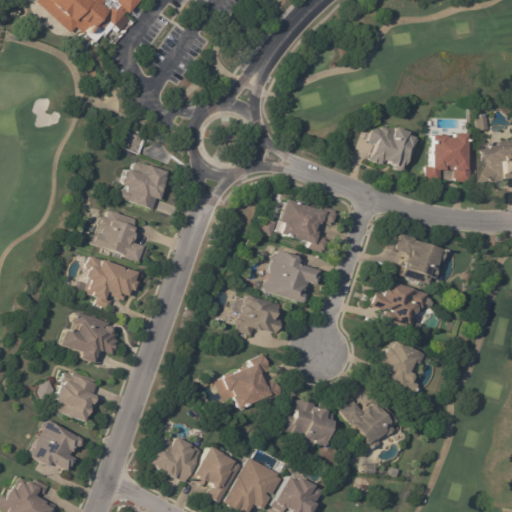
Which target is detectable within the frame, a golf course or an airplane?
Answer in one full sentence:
The one in the frame is a golf course.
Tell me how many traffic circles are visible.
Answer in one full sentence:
In total, 1 traffic circle can be seen.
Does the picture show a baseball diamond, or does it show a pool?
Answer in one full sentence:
The one in the frame is a pool.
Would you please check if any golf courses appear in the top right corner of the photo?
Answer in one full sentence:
Yes, a golf course can be seen in the top right corner of the photo.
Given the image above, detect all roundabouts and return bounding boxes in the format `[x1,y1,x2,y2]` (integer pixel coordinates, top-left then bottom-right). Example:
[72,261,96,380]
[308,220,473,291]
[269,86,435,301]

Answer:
[190,80,288,210]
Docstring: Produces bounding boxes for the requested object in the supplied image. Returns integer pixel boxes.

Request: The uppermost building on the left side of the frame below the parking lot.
[117,161,168,210]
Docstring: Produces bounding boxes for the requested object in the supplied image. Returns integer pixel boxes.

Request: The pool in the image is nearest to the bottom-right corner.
[378,444,400,461]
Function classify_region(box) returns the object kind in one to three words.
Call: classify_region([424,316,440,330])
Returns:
swimming pool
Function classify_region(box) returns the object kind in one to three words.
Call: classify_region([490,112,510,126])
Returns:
swimming pool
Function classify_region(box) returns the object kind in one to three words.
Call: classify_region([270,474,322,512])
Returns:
house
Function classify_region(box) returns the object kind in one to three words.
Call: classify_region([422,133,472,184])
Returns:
house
